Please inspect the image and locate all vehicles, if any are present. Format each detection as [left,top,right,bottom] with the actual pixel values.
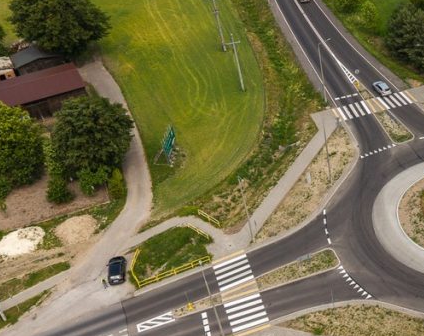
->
[371,77,391,95]
[103,250,125,282]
